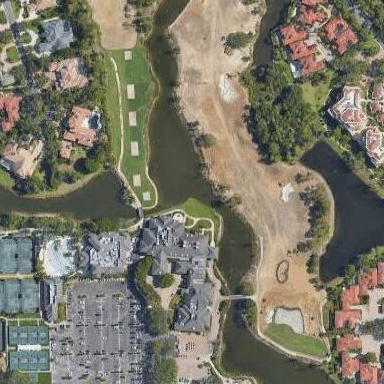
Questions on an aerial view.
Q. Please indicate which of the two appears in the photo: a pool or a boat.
pool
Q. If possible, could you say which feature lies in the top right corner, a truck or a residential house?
residential house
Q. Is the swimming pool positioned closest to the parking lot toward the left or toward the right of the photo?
left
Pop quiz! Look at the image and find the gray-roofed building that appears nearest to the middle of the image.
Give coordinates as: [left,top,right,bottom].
[134,216,215,277]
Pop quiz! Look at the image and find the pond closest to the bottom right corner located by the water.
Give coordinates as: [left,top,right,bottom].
[303,141,384,283]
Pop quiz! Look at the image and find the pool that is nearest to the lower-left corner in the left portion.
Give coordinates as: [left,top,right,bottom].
[40,235,76,277]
